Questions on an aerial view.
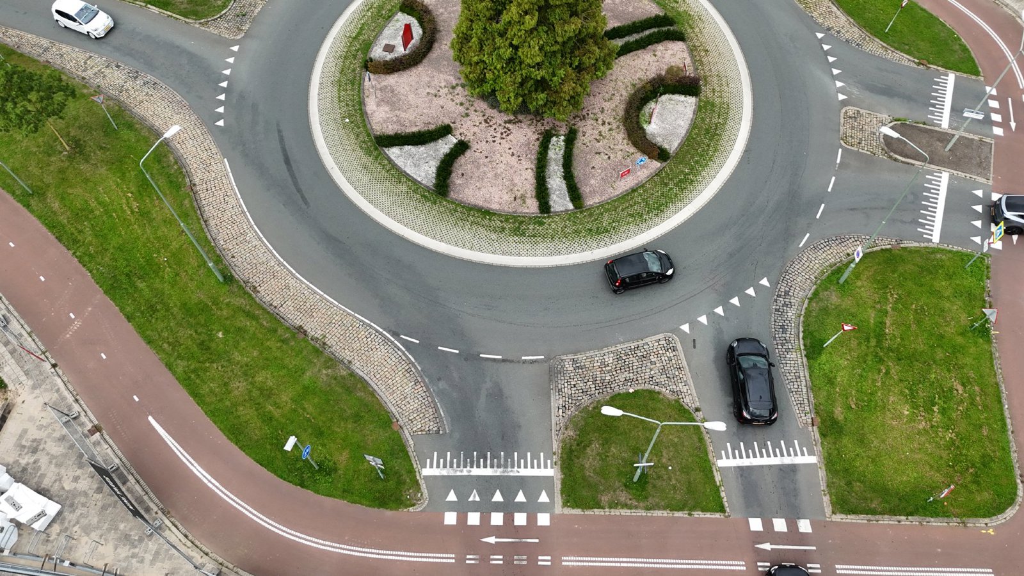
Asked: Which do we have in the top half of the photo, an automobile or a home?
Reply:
automobile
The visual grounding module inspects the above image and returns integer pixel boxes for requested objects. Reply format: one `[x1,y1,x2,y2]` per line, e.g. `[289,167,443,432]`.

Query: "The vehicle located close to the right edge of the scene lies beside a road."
[991,196,1024,239]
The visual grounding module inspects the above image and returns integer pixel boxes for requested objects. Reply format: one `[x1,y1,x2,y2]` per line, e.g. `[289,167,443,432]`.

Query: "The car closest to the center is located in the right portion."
[600,242,675,295]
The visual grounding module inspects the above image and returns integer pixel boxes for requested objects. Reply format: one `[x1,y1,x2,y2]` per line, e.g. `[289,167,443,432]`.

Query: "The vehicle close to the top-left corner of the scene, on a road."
[48,0,116,39]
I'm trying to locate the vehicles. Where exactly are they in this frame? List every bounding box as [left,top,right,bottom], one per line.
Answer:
[600,242,675,295]
[726,337,782,427]
[991,196,1024,239]
[767,565,812,576]
[48,0,116,39]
